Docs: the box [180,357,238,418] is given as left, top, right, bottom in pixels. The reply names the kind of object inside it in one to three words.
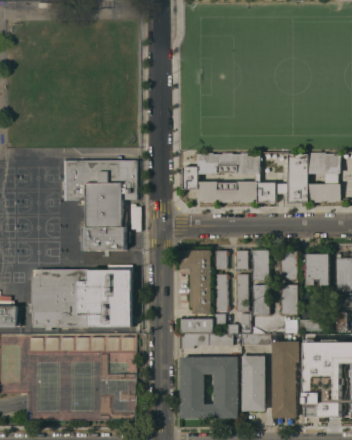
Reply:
building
